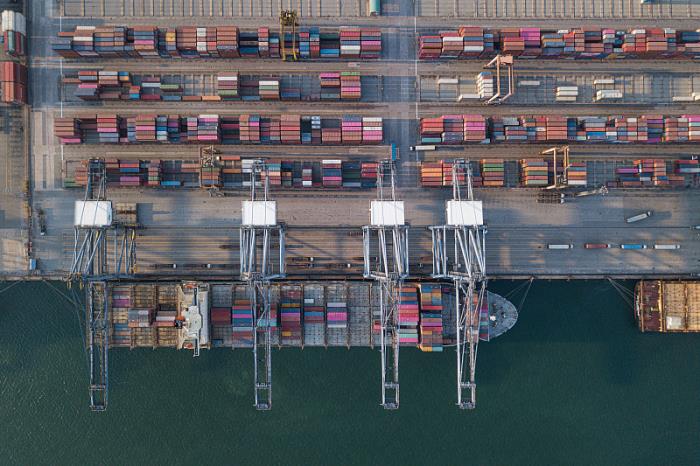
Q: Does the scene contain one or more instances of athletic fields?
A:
No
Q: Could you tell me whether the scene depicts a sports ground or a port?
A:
port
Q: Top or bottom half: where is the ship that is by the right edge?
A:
bottom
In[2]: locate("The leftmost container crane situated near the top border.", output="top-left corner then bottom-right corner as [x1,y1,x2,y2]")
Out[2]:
[280,7,304,62]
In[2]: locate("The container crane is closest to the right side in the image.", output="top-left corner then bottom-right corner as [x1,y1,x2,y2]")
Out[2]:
[537,148,569,192]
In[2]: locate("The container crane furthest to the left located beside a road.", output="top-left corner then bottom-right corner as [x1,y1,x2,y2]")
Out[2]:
[57,161,140,410]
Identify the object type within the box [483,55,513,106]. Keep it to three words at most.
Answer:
container crane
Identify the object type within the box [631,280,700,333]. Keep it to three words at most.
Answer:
ship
